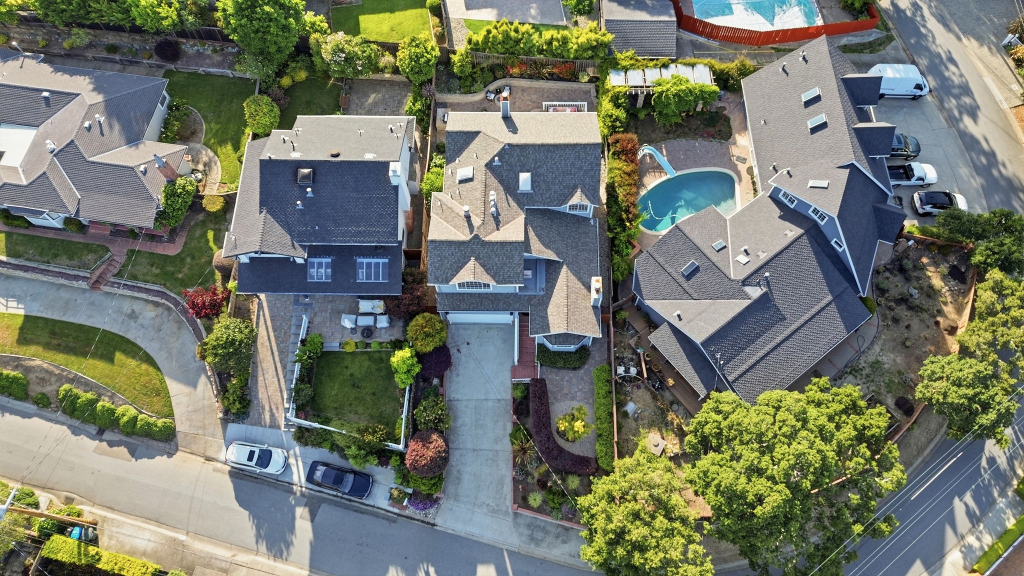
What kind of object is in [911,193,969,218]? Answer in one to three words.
car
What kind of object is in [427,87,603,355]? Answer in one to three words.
house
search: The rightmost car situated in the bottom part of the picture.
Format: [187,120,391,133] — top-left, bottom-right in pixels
[306,461,375,503]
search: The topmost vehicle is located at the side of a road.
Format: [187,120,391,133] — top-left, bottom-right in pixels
[875,69,934,104]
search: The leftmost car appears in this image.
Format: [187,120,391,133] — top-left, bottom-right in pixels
[223,440,291,479]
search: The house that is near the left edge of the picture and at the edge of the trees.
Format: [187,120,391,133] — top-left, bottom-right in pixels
[0,45,192,237]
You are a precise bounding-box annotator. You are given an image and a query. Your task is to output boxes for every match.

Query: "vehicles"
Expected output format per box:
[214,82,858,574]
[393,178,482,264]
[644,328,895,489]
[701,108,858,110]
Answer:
[884,137,928,164]
[886,165,944,192]
[306,461,375,503]
[875,69,934,104]
[223,440,291,479]
[911,193,969,218]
